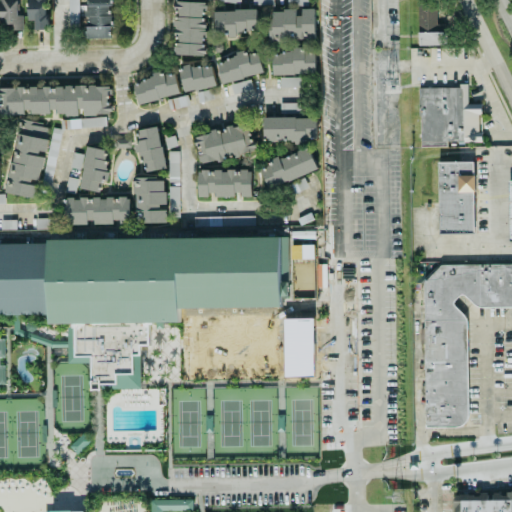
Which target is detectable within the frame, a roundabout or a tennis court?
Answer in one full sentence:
Of the two, only a tennis court appears.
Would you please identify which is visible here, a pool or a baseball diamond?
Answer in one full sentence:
It is a pool that can be seen here.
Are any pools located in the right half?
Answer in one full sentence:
No, no pool can be made out in the right half.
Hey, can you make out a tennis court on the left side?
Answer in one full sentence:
Yes, a tennis court can be seen on the left side.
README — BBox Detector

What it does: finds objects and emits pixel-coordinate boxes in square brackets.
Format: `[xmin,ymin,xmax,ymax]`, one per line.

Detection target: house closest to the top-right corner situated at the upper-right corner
[419,6,444,46]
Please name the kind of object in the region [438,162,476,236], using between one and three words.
building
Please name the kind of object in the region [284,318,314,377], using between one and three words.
shed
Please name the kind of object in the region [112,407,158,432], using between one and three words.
swimming pool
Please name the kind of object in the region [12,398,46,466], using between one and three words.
tennis court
